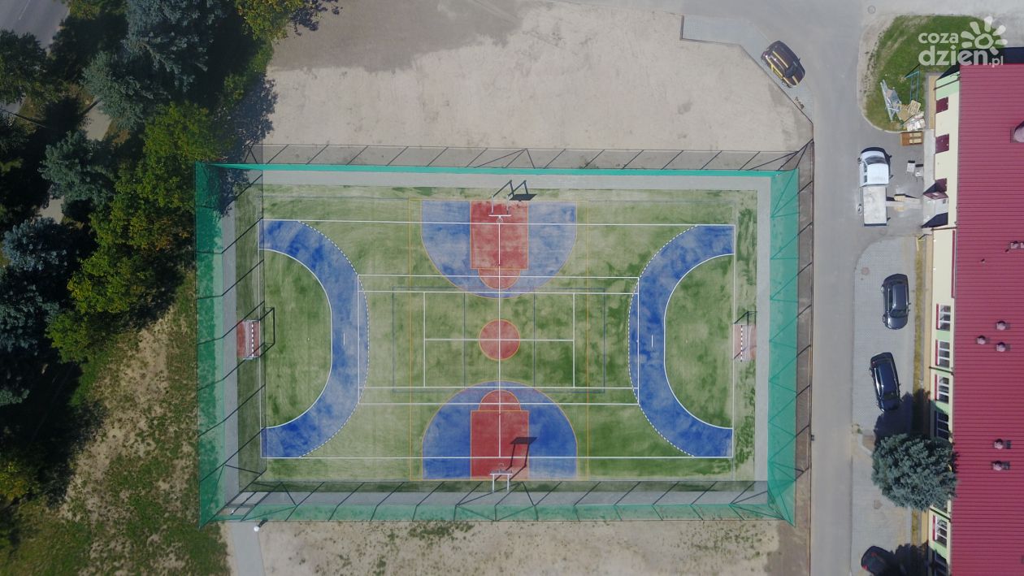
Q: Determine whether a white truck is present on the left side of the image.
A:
No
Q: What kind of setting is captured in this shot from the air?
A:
sports ground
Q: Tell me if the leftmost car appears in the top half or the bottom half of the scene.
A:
top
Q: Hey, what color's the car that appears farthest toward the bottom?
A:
black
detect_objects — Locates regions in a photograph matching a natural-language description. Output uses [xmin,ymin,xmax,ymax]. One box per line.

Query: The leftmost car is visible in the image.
[761,43,801,88]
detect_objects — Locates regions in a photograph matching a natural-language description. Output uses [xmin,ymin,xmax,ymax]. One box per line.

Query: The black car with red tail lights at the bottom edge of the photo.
[860,549,905,576]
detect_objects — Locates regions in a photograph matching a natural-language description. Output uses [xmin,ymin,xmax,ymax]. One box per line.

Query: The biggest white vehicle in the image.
[858,150,889,224]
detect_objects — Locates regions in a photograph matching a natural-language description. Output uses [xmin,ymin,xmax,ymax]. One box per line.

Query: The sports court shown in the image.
[222,171,771,505]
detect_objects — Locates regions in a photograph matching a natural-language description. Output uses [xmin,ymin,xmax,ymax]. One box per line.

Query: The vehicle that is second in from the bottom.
[868,353,900,409]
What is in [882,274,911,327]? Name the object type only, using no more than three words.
car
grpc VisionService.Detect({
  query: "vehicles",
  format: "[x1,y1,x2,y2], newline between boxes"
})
[882,274,911,327]
[858,150,889,224]
[868,353,900,409]
[860,549,905,576]
[761,43,801,88]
